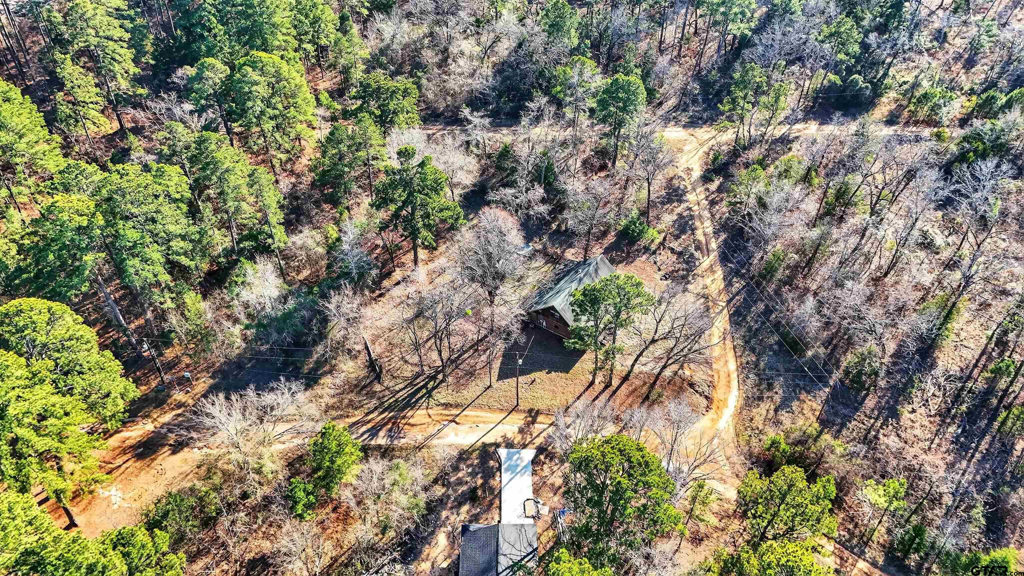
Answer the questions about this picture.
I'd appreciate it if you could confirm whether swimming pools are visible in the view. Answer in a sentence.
No, the scene contains no swimming pool.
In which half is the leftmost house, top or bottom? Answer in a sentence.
The leftmost house sits in the bottom half of the picture.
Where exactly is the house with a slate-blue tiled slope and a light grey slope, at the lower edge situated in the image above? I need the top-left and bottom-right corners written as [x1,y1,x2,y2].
[457,522,539,576]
